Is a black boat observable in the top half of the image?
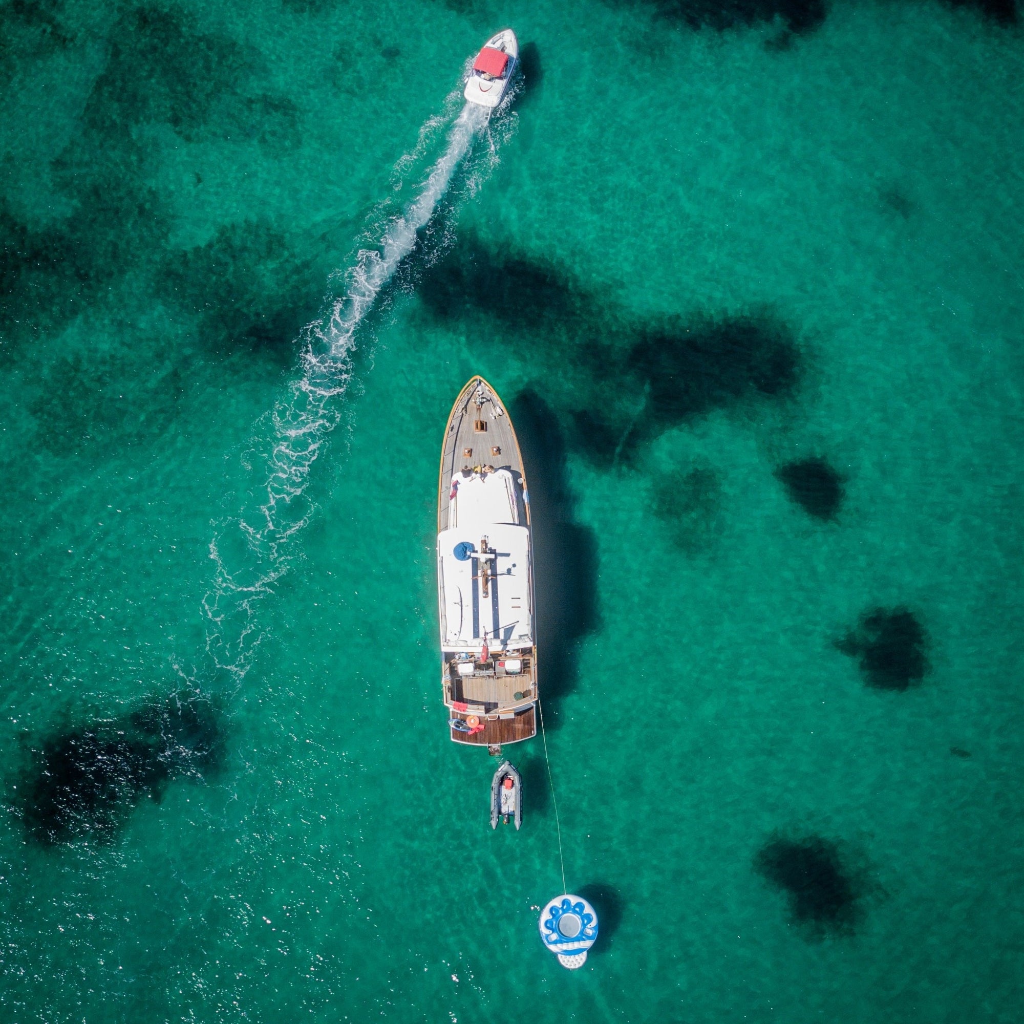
No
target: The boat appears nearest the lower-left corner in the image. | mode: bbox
[490,760,523,830]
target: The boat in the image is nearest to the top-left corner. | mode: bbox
[464,27,518,126]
